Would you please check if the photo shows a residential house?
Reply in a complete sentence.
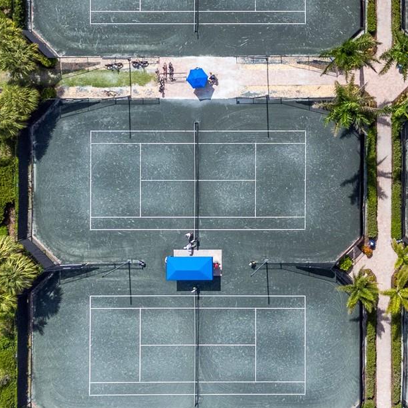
No, no residential house can be seen from above.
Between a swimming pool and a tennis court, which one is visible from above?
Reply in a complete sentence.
The image shows a tennis court.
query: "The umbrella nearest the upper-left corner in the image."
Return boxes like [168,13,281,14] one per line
[187,67,210,88]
